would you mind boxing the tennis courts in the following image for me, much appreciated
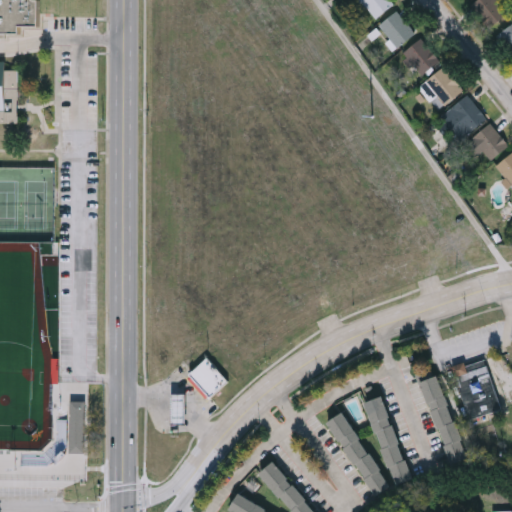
[22,166,54,242]
[0,166,22,242]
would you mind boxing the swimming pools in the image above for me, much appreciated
[344,396,368,424]
[490,182,507,208]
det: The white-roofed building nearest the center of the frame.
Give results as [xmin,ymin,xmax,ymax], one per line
[188,358,229,400]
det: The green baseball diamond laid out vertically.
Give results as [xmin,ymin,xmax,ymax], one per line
[0,244,52,449]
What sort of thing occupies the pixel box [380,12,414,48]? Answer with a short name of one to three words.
house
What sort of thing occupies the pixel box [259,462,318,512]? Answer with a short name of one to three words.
building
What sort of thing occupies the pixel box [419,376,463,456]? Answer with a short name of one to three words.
building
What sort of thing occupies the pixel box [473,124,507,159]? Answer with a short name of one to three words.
house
